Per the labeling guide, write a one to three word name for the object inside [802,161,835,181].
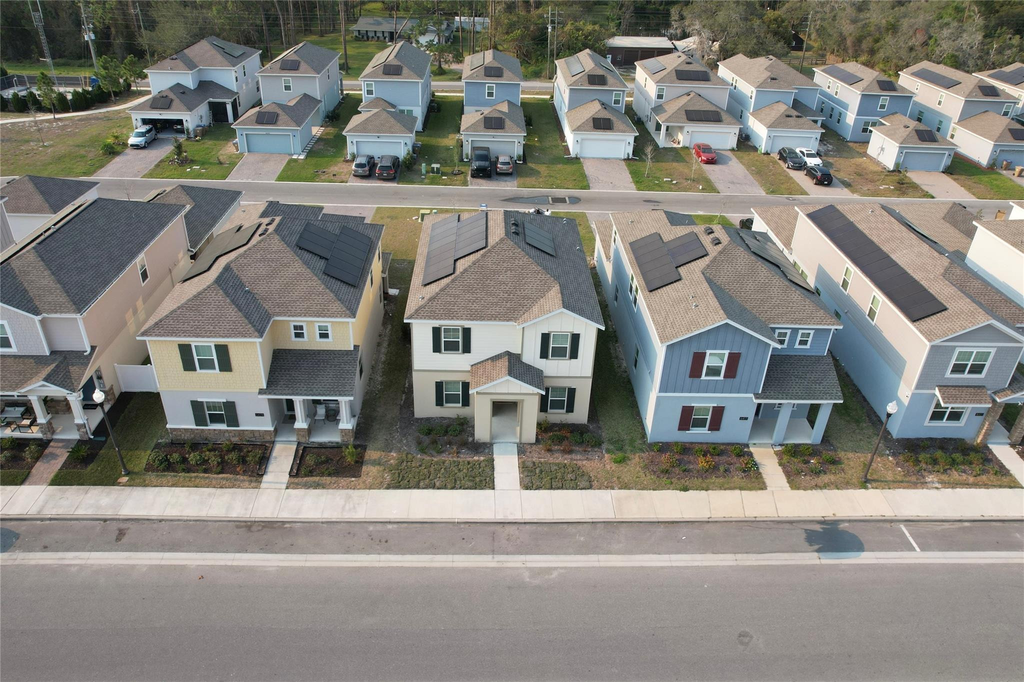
car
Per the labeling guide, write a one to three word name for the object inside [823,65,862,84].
solar array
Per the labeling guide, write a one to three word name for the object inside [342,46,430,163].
house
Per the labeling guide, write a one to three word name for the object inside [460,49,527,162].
house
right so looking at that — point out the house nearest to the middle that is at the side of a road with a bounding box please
[401,202,607,443]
